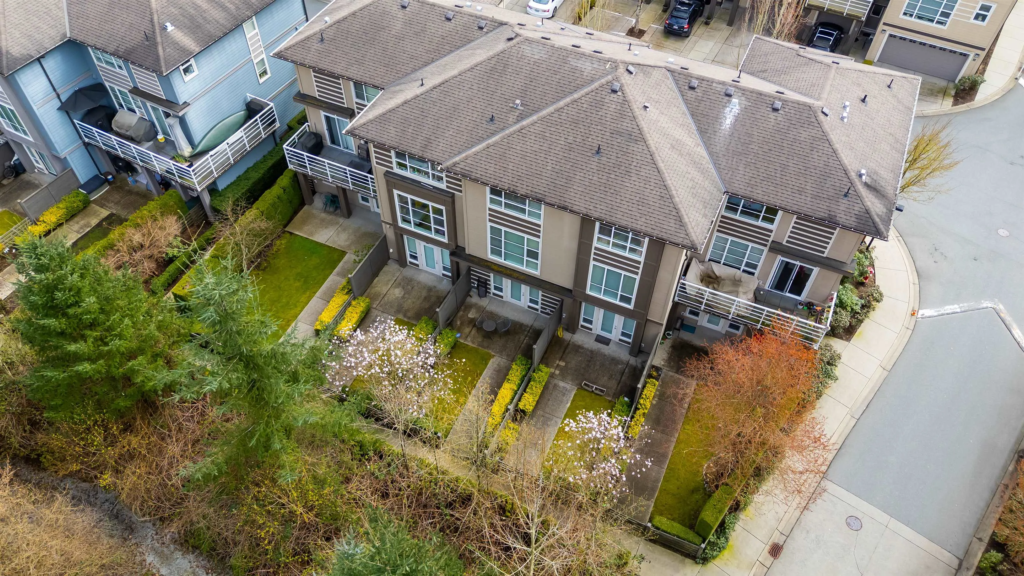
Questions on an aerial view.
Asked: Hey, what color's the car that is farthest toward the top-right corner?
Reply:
black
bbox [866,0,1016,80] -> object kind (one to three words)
house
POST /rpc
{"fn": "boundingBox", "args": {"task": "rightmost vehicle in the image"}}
[807,20,846,54]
